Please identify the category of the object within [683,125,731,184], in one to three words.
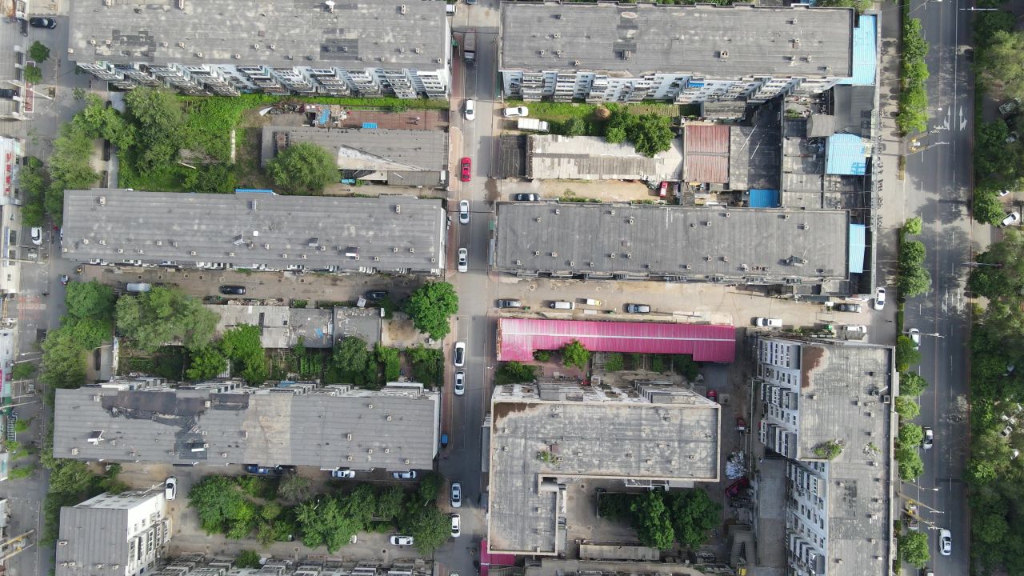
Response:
shed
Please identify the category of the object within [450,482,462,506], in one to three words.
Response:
vehicle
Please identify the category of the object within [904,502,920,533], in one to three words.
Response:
vehicle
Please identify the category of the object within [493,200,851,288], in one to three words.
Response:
building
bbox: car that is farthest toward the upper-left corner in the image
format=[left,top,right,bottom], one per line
[31,16,57,28]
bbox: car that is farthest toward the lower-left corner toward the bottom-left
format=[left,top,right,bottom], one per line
[164,478,177,500]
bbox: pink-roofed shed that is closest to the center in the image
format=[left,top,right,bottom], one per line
[496,318,736,362]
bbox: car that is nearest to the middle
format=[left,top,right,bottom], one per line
[497,298,521,310]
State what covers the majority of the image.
buildings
